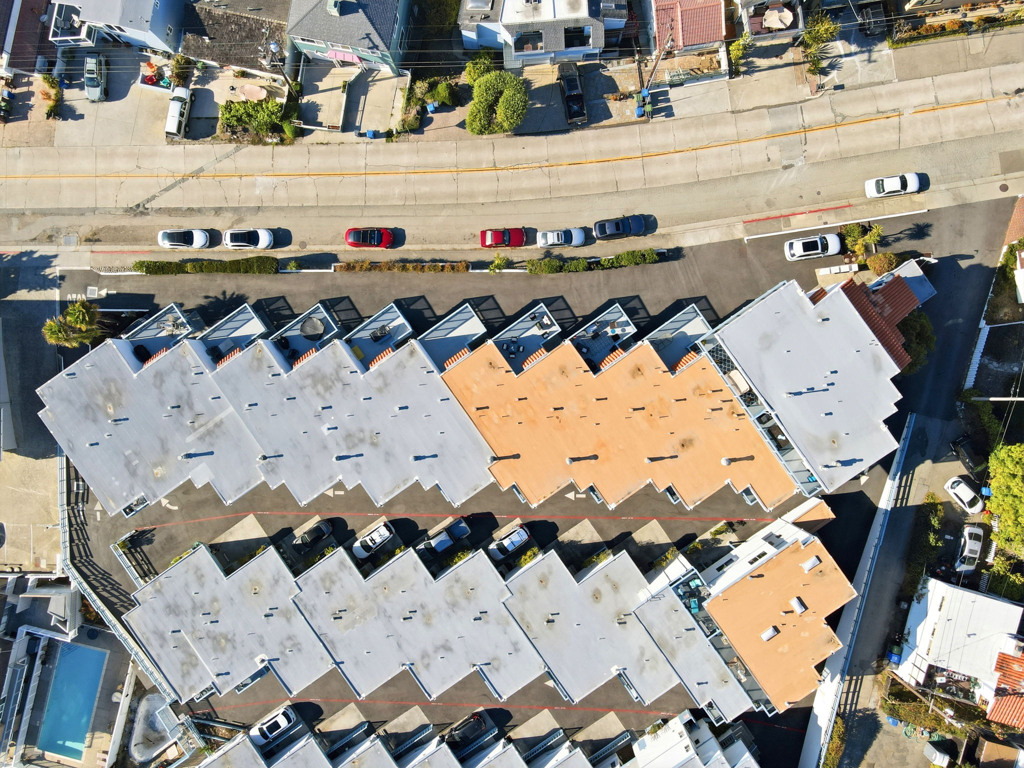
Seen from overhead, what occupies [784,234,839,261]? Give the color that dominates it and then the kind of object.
white car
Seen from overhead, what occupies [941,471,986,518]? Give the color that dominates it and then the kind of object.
white car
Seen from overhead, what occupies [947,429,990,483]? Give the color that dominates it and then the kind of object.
black car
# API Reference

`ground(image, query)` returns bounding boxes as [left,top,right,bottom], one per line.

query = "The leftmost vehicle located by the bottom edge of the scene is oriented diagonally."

[247,703,299,744]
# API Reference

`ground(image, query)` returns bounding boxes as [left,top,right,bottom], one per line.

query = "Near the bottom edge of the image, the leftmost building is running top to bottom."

[0,550,94,768]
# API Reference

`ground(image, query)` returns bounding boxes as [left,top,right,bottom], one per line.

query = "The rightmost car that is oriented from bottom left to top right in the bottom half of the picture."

[484,523,534,563]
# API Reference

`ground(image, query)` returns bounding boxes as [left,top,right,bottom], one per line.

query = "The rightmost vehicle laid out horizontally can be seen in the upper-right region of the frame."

[864,172,919,200]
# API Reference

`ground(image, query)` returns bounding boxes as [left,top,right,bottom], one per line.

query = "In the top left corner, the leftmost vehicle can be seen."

[82,52,110,104]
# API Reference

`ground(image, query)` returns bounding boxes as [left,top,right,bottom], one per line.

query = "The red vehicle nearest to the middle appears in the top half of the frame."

[480,226,526,249]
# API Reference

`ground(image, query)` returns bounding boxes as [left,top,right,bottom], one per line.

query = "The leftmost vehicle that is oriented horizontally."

[157,226,211,251]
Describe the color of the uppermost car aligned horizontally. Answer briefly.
white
